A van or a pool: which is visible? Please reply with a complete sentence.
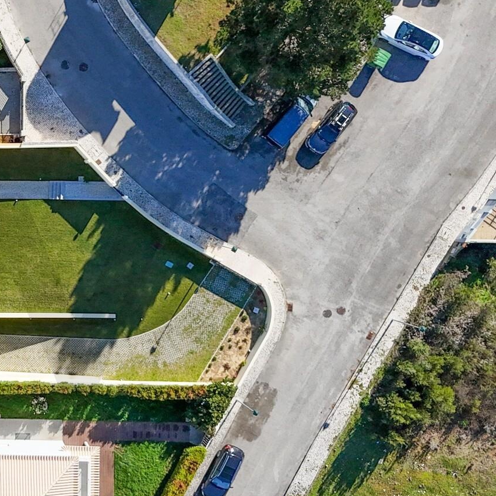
Looking from above, you can make out a van.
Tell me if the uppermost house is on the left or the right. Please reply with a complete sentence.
The uppermost house sits on the right side.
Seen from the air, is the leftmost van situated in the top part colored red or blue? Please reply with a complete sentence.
The leftmost van situated in the top part is blue.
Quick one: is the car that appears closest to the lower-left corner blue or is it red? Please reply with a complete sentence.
The car that appears closest to the lower-left corner is blue.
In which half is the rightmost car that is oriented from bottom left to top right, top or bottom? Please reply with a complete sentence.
Seen from above, the rightmost car that is oriented from bottom left to top right lies in the top half of the view.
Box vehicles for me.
[260,101,311,153]
[201,444,243,496]
[306,99,355,156]
[390,20,440,58]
